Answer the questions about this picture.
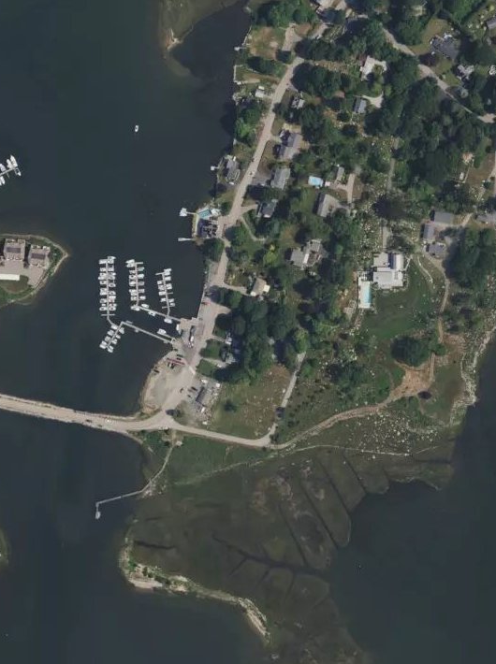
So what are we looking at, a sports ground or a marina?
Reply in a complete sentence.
What you see here is a marina.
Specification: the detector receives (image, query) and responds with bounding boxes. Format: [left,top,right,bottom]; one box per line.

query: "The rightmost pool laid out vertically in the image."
[359,278,371,307]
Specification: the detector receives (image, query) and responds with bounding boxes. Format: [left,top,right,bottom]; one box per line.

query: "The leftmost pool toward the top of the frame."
[196,207,214,222]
